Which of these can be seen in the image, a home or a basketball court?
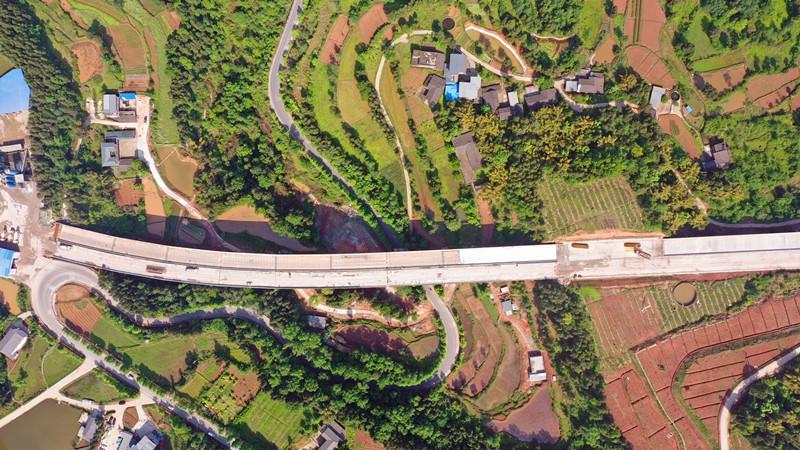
home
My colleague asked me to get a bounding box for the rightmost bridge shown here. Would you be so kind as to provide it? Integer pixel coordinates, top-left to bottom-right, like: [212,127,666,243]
[664,232,800,255]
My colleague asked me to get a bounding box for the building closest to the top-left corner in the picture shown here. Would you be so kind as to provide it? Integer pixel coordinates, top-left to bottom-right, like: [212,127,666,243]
[0,68,37,116]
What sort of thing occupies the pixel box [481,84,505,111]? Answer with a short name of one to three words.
house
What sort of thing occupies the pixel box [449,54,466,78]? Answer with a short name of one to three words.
house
